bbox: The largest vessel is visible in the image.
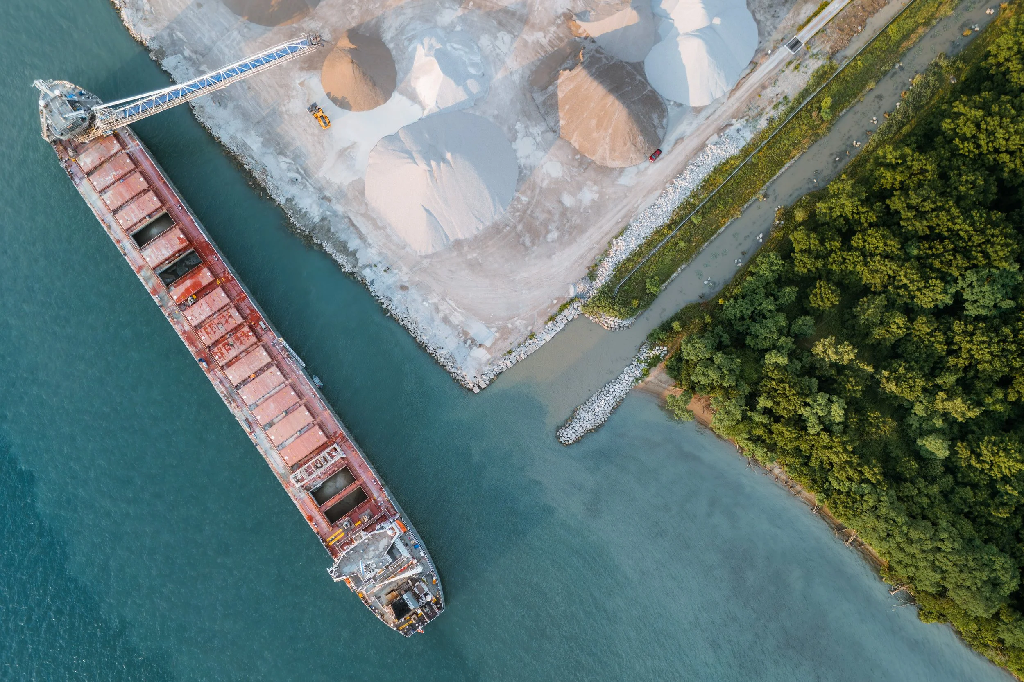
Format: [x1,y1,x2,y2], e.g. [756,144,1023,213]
[32,30,445,639]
